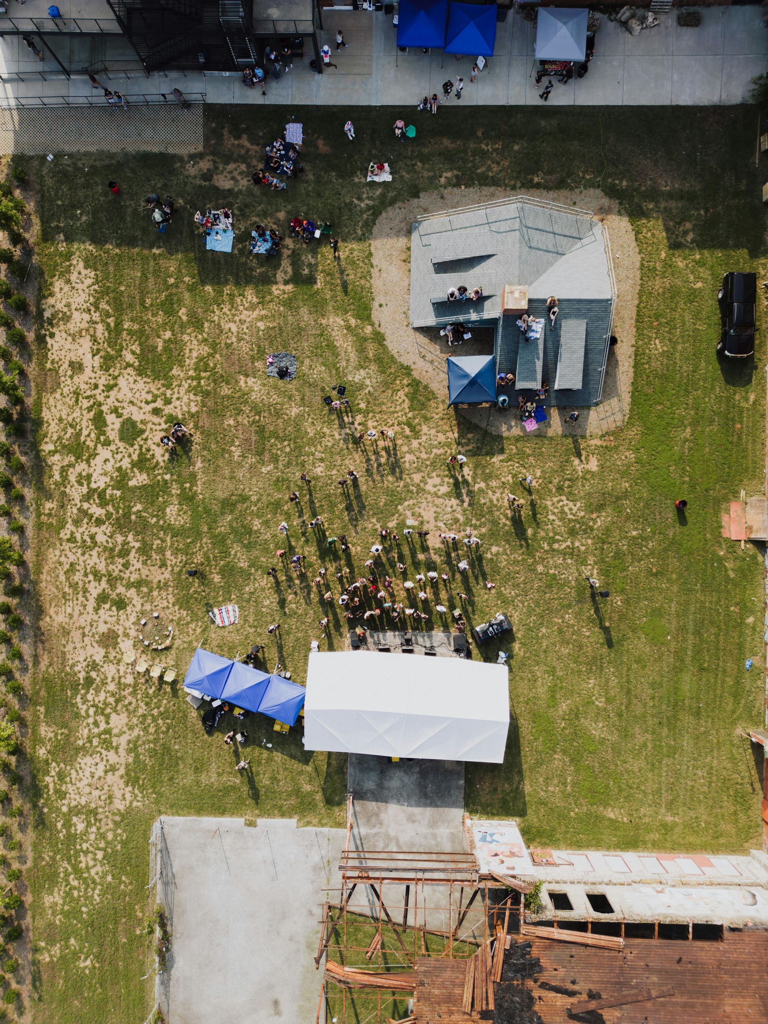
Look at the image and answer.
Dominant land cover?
grass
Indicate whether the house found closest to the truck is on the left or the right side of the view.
right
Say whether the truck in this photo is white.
No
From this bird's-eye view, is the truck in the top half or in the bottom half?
top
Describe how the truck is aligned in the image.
vertically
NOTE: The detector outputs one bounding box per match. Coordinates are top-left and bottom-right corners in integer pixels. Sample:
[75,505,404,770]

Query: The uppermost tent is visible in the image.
[305,646,510,763]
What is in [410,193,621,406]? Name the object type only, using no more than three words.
house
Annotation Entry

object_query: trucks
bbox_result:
[715,273,760,361]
